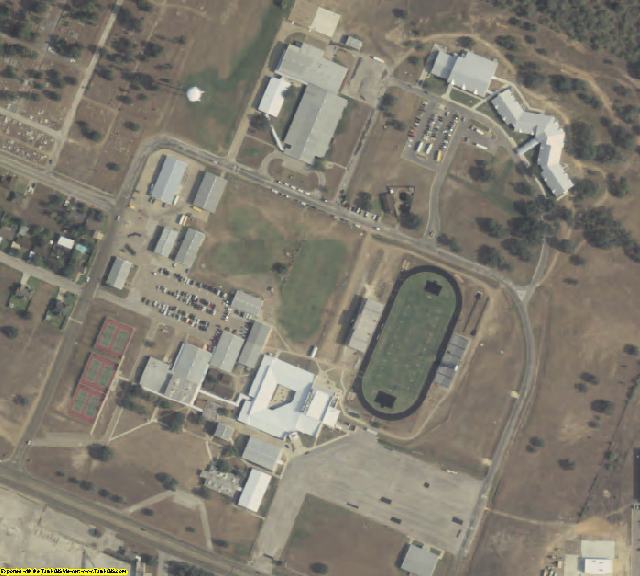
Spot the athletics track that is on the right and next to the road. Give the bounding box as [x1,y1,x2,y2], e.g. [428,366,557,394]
[352,264,459,421]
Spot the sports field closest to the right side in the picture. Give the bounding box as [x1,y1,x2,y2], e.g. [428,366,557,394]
[366,271,453,414]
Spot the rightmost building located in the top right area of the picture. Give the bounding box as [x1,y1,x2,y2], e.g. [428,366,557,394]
[492,88,574,197]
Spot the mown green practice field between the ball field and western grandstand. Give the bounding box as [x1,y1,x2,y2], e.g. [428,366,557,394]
[281,237,346,343]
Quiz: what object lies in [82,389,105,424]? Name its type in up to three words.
tennis court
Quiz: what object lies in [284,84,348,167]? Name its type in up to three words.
building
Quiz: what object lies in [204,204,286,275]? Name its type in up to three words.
sports field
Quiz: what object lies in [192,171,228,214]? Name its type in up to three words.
building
